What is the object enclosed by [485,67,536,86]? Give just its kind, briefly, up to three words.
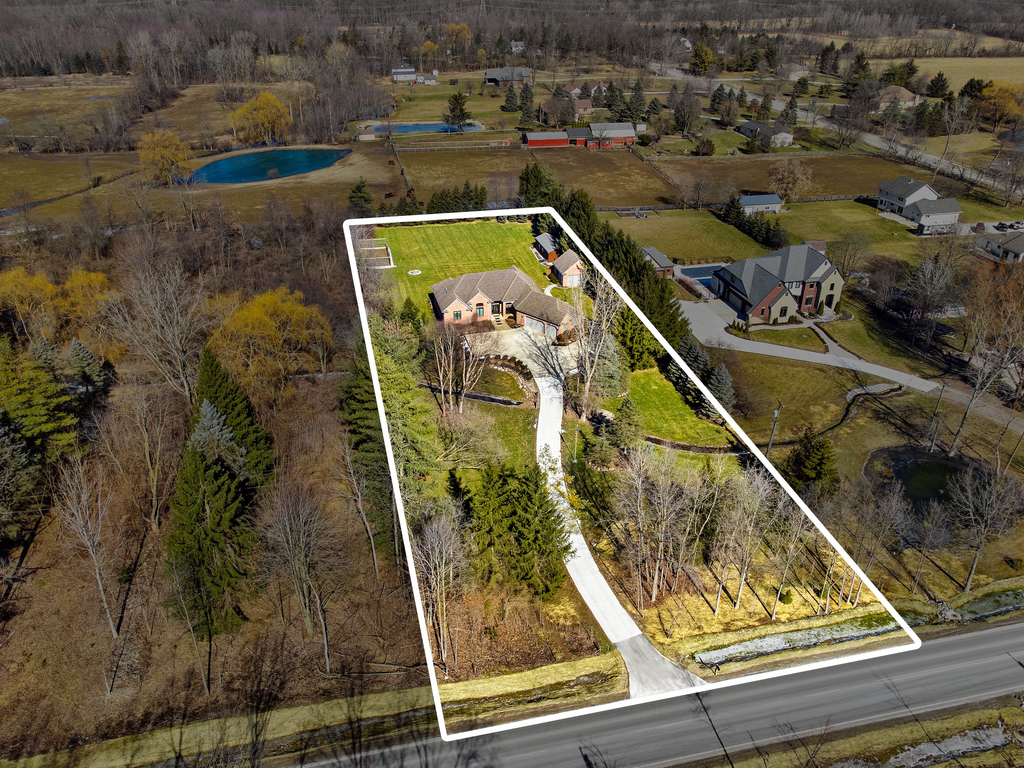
house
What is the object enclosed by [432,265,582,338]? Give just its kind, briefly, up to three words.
house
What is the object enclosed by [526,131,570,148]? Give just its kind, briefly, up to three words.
barn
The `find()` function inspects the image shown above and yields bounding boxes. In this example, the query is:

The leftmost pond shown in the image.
[193,149,351,185]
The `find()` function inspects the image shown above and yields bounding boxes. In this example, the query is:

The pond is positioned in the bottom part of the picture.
[861,446,1008,553]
